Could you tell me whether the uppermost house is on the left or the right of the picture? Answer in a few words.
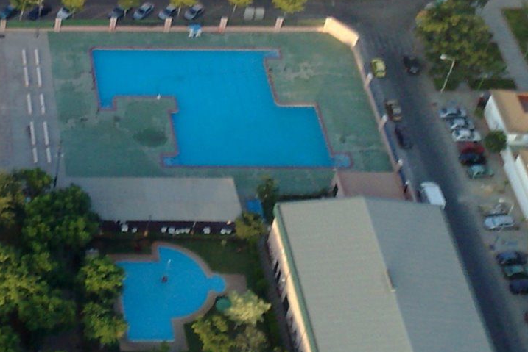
right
